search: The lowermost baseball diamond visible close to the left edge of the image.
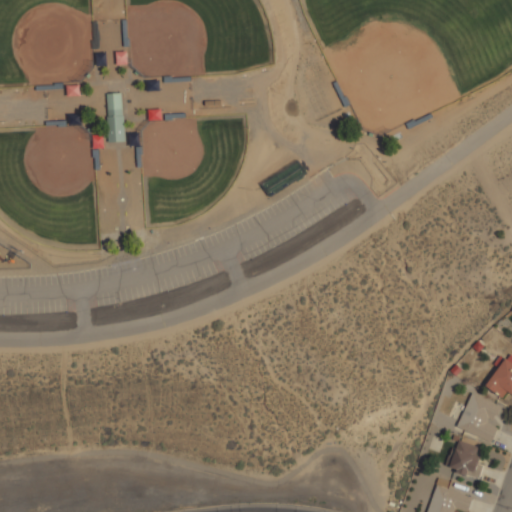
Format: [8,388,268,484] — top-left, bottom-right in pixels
[0,126,96,244]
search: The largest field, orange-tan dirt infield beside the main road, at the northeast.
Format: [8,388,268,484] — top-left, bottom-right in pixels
[306,0,512,132]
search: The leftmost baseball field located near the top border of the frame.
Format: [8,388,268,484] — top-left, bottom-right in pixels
[0,0,94,85]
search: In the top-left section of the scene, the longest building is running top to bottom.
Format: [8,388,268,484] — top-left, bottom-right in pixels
[106,92,126,142]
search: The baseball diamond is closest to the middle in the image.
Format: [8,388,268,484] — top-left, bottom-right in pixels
[142,118,243,222]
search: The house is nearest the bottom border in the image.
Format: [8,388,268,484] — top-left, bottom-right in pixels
[426,484,468,512]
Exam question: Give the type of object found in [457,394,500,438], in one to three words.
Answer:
house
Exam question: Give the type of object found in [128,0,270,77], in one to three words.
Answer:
baseball field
